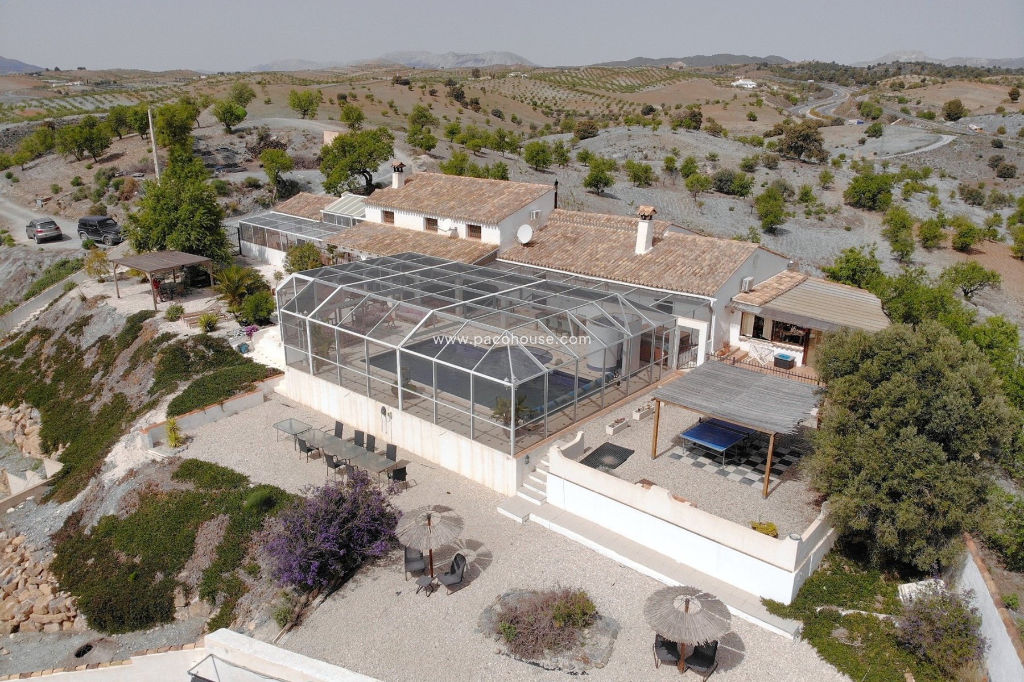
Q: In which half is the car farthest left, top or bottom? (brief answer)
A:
top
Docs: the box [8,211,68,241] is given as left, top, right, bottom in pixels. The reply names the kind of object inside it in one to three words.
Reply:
car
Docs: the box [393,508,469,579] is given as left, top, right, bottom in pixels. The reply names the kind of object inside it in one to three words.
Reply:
umbrella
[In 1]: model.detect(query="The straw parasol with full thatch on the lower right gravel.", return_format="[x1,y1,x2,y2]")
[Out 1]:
[639,585,735,673]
